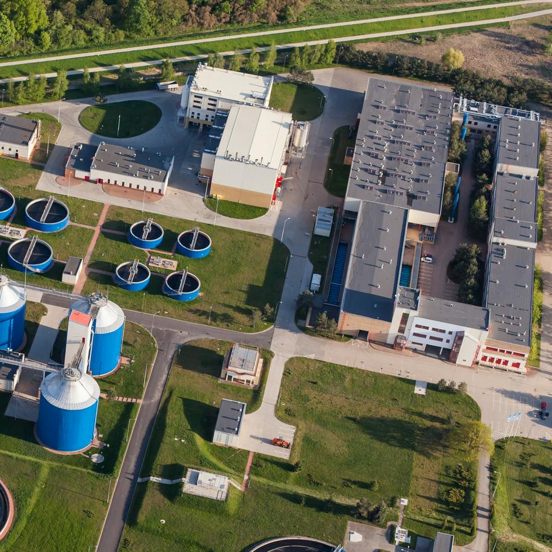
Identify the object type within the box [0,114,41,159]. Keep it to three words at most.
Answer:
building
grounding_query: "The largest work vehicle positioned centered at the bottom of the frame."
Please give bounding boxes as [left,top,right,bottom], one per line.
[273,437,293,451]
